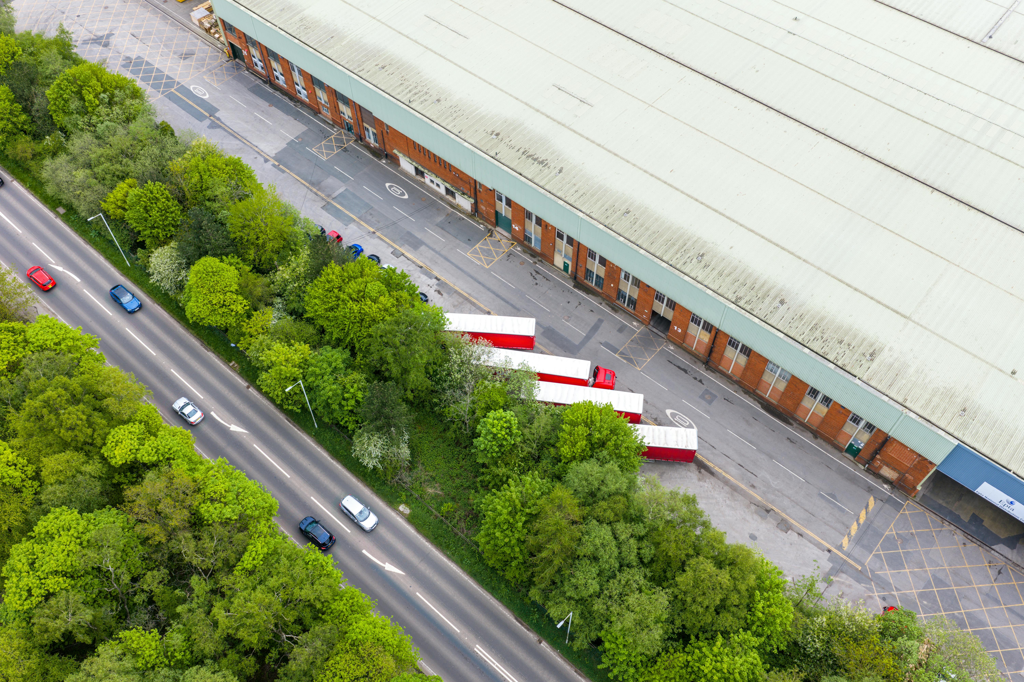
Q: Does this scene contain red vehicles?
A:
Yes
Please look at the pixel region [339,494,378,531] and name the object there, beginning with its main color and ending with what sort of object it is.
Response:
white car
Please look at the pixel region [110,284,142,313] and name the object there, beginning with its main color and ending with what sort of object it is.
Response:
blue car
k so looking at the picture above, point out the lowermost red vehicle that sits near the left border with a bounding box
[29,268,56,292]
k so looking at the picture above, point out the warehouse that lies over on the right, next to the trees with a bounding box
[211,0,1024,567]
